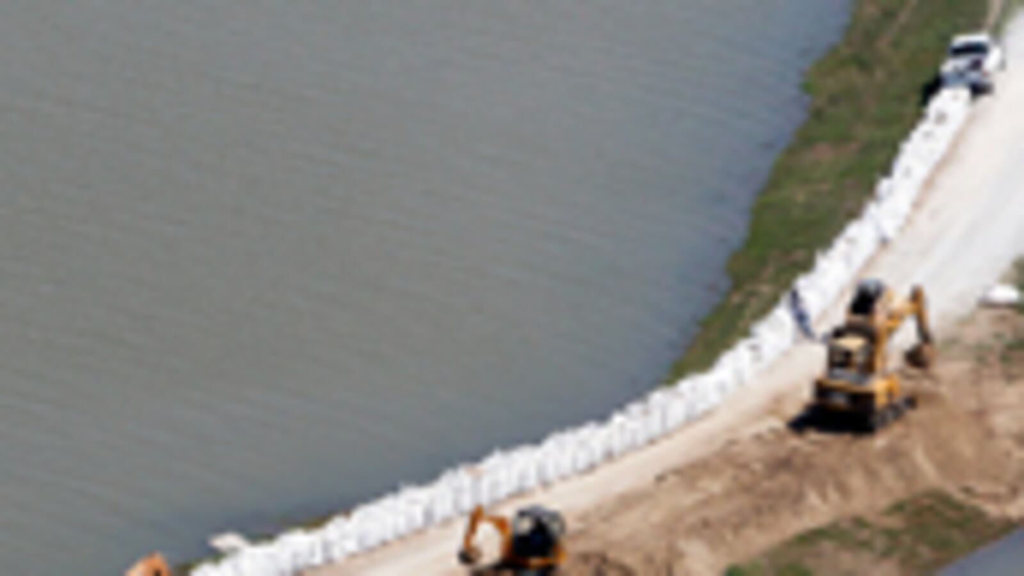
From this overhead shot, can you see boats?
No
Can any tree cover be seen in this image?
No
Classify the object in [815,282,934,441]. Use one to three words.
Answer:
work vehicle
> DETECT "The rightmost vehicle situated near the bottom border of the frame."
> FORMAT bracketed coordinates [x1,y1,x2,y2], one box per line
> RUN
[460,500,567,576]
